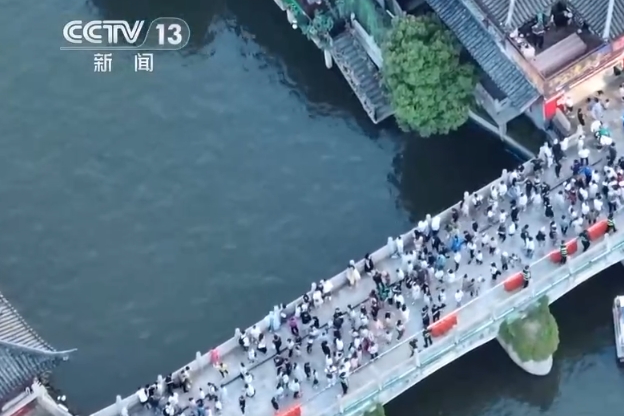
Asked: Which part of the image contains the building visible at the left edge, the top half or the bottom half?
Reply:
bottom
